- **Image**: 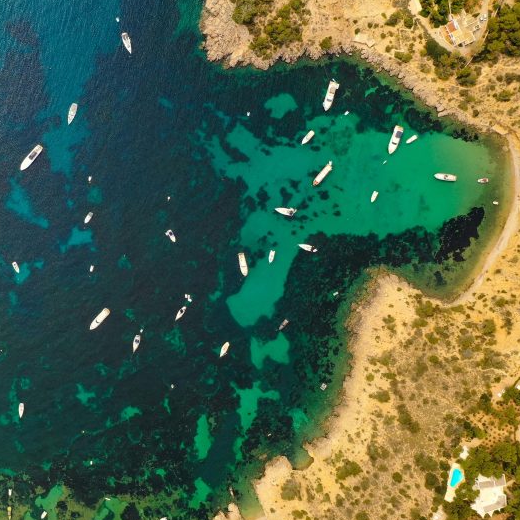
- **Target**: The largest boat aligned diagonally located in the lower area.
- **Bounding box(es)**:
[90,306,110,330]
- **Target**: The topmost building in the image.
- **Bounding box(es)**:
[438,11,478,48]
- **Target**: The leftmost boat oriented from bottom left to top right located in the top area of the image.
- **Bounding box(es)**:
[22,144,43,170]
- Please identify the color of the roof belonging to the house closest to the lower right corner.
white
